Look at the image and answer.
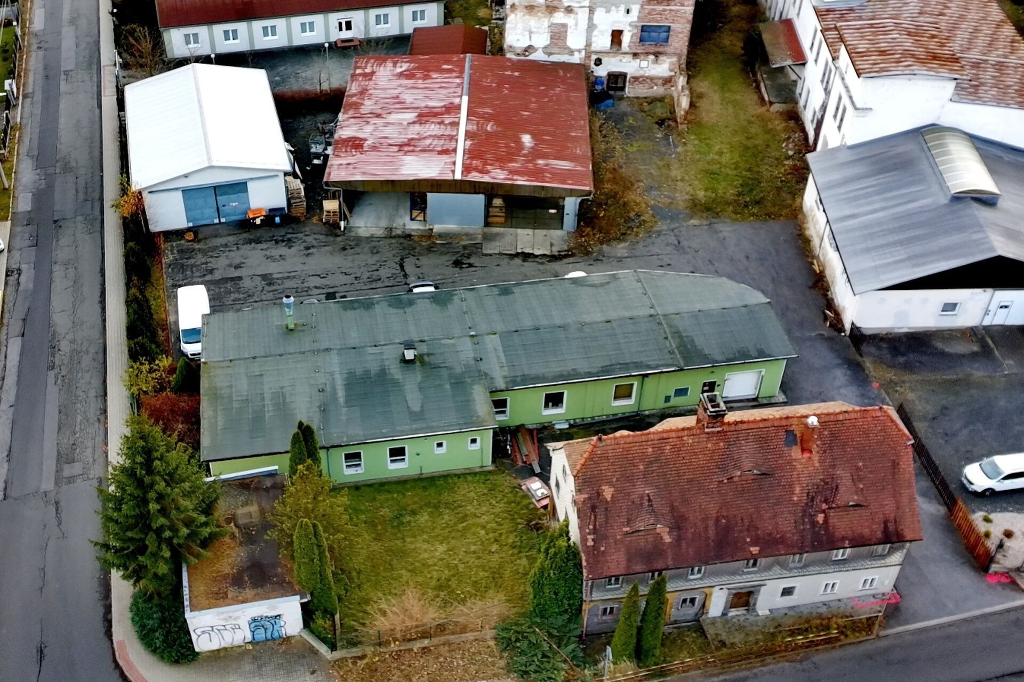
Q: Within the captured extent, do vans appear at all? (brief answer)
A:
Yes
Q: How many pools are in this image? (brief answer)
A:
zero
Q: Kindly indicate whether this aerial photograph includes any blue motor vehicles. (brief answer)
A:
No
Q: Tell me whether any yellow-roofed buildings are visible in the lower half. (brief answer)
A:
No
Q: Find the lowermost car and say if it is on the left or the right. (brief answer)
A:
right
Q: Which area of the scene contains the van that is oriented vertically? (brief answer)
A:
left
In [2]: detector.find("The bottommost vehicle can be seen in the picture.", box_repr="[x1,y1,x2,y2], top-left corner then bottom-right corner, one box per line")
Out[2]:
[963,450,1024,496]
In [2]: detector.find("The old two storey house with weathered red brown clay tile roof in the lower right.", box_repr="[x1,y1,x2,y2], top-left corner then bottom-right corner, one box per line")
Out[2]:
[545,396,926,634]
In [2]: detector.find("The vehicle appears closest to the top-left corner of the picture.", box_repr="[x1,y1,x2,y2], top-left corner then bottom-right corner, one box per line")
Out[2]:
[173,289,214,364]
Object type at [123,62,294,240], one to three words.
barn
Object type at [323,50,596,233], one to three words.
shed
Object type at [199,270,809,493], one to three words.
building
